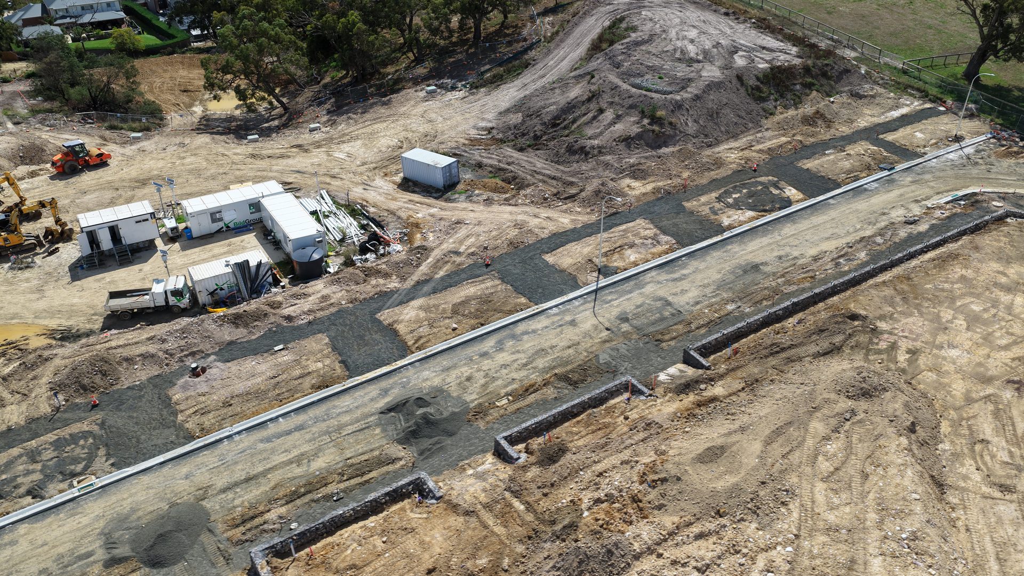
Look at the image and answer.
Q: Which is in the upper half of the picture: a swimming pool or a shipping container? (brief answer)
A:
shipping container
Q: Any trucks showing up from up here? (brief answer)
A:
Yes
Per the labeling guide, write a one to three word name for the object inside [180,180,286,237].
building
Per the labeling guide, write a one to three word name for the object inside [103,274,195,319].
truck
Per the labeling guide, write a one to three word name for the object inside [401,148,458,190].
shipping container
